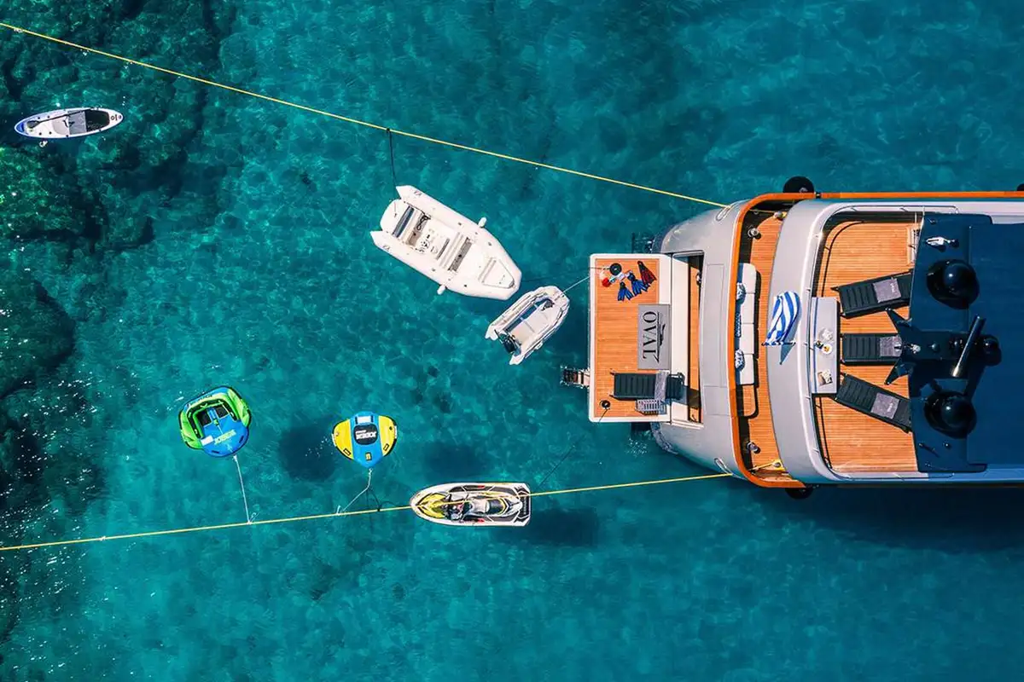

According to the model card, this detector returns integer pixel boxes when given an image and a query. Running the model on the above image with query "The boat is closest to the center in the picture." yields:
[486,288,569,366]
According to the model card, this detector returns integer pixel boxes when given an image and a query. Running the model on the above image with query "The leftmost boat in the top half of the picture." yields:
[371,187,521,300]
